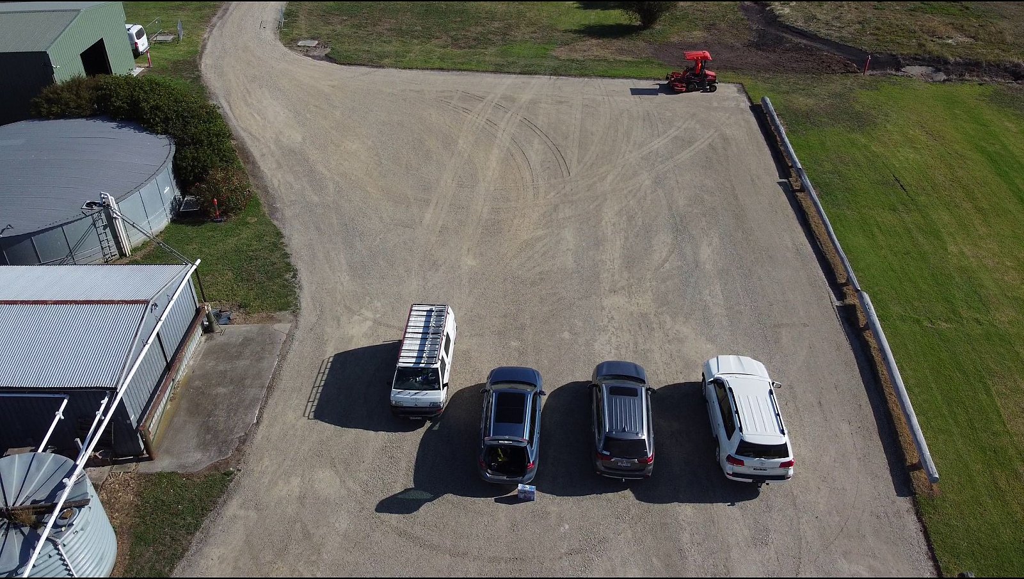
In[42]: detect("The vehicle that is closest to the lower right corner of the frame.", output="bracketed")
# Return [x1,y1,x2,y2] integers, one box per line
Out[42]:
[699,357,796,490]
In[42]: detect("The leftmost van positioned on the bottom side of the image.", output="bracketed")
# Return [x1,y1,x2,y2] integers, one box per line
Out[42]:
[384,298,459,417]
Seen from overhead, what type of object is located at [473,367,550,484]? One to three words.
car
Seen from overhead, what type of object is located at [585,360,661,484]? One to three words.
car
